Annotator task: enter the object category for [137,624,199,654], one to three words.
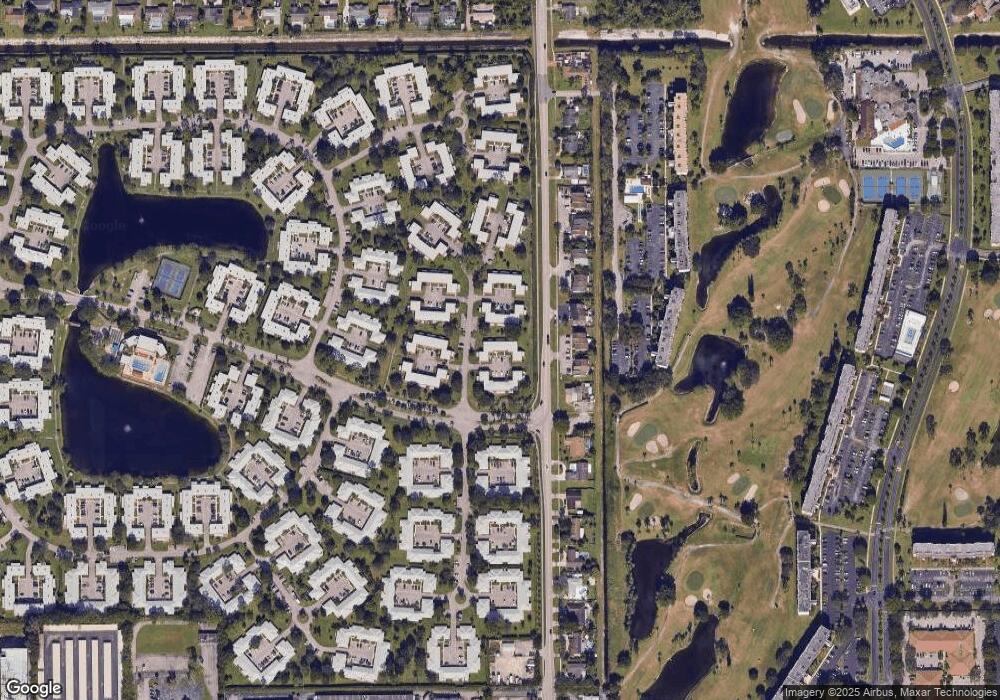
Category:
sports field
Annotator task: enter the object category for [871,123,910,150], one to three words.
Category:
swimming pool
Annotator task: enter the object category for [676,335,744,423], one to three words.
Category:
pond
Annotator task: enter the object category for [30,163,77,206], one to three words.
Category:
building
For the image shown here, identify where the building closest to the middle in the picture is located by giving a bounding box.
[476,341,526,363]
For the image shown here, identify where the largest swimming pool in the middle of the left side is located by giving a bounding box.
[120,353,154,382]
